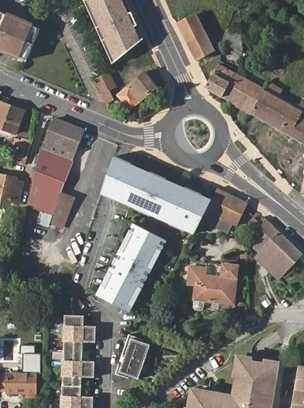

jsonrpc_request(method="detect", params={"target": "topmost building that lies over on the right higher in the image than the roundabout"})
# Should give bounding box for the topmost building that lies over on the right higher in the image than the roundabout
[177,13,216,61]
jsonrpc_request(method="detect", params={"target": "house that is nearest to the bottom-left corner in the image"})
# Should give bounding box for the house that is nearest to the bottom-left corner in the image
[0,371,38,398]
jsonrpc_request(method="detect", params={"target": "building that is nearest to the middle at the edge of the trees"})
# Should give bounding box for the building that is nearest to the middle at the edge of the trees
[102,154,212,234]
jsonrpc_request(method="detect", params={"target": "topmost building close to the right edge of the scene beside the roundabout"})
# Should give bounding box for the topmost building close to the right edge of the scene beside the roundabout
[207,64,304,144]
